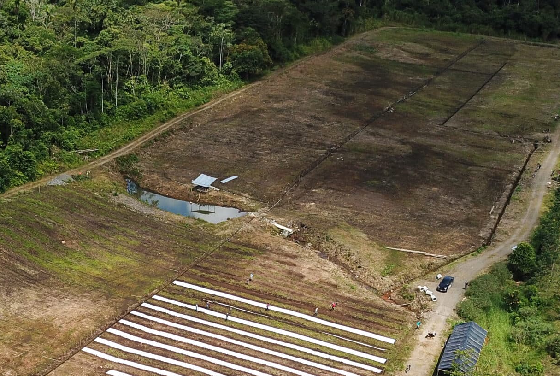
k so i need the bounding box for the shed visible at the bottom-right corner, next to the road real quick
[439,322,489,374]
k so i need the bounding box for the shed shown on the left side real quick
[192,174,228,198]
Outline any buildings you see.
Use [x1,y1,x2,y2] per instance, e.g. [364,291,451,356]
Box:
[192,174,228,198]
[439,322,489,374]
